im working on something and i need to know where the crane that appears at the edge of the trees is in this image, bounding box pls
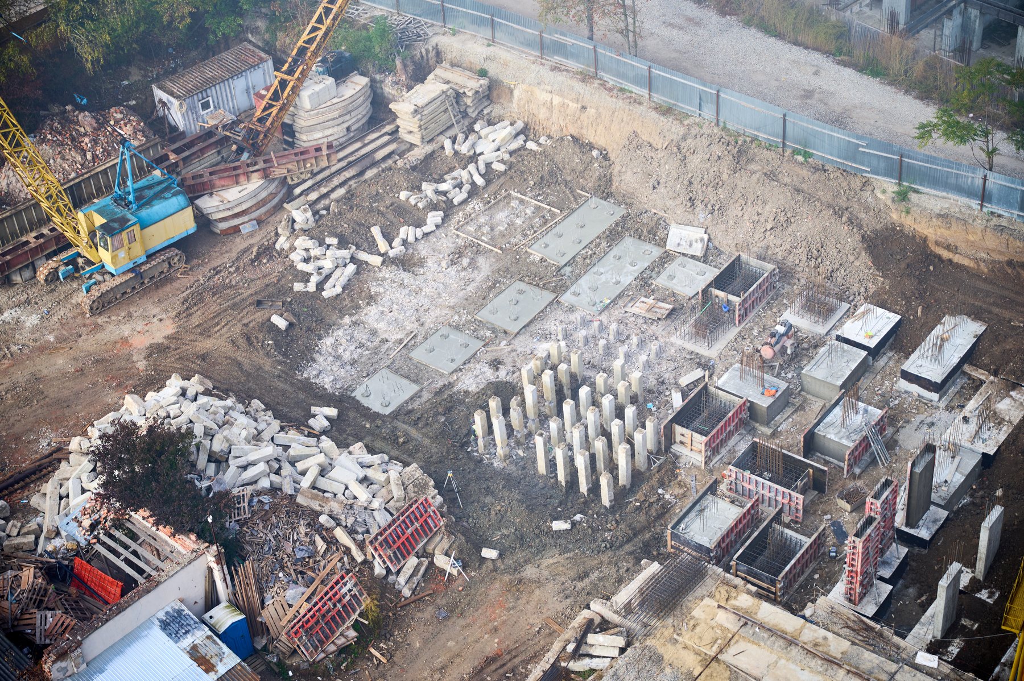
[0,32,199,314]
